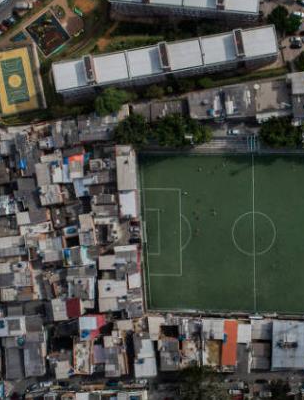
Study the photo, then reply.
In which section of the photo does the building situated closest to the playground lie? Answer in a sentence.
The building situated closest to the playground is located in the top region of the scene.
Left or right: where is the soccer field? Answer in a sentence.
The soccer field sits on the right side.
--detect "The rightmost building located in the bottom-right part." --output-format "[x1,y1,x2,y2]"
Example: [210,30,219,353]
[273,319,304,371]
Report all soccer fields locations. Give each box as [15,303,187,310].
[139,150,304,316]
